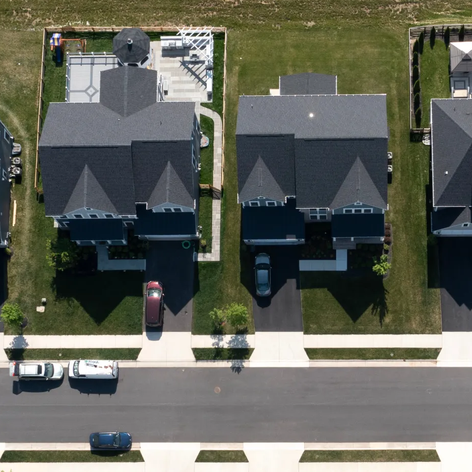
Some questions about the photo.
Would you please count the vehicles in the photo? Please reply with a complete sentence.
Altogether the scene contains 5 vehicles.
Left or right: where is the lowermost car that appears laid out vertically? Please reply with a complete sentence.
The lowermost car that appears laid out vertically appears in the left half of the scene.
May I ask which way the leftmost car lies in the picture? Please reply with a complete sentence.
In this picture, the leftmost car is oriented from side to side.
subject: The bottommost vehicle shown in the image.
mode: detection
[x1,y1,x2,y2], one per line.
[89,429,133,451]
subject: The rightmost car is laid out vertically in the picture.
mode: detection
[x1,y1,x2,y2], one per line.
[253,254,273,297]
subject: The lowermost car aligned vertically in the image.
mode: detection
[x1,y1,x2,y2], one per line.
[143,282,166,328]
